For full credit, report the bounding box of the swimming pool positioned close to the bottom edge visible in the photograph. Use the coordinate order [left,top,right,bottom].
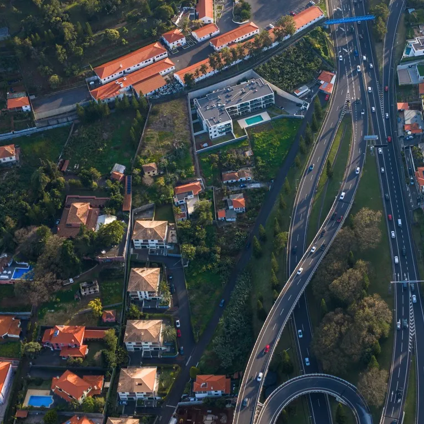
[25,393,54,408]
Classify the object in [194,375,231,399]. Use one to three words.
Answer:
house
